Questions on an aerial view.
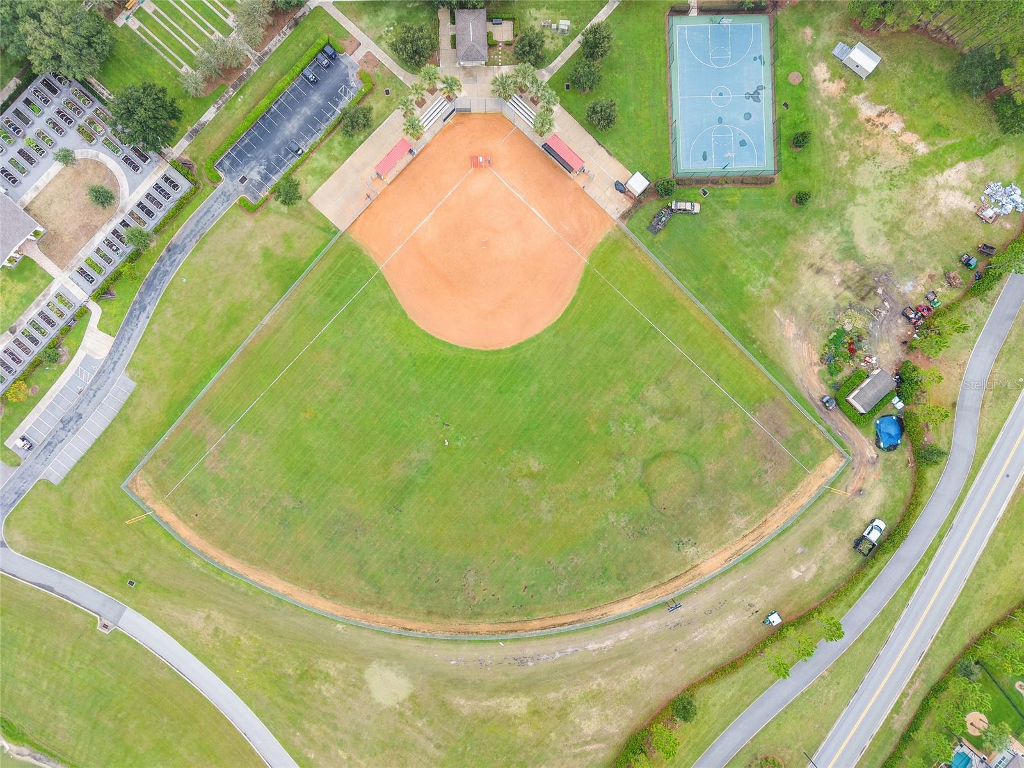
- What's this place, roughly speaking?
sports ground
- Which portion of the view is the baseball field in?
center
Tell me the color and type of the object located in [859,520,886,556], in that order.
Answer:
white truck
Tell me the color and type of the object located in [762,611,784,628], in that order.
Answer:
white work vehicle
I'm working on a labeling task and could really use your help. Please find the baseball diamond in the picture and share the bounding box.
[130,114,845,636]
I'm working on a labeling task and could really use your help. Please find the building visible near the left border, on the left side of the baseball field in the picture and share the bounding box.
[0,192,47,284]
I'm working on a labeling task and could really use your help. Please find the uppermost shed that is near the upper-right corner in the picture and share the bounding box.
[843,42,880,77]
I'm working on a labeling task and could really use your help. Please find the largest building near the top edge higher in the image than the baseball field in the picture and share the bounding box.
[455,8,488,67]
